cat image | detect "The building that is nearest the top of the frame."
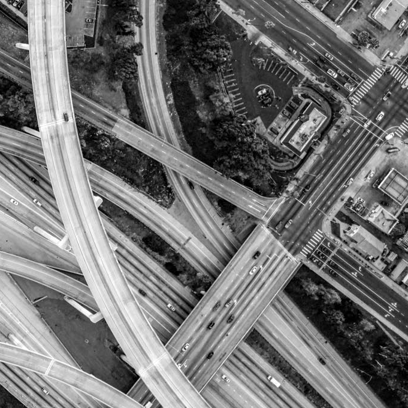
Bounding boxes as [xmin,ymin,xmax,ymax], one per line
[366,0,408,30]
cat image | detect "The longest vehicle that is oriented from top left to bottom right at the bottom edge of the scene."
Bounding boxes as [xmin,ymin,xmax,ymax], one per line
[268,375,285,390]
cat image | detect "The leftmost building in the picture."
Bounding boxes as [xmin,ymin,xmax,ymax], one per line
[274,102,327,155]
